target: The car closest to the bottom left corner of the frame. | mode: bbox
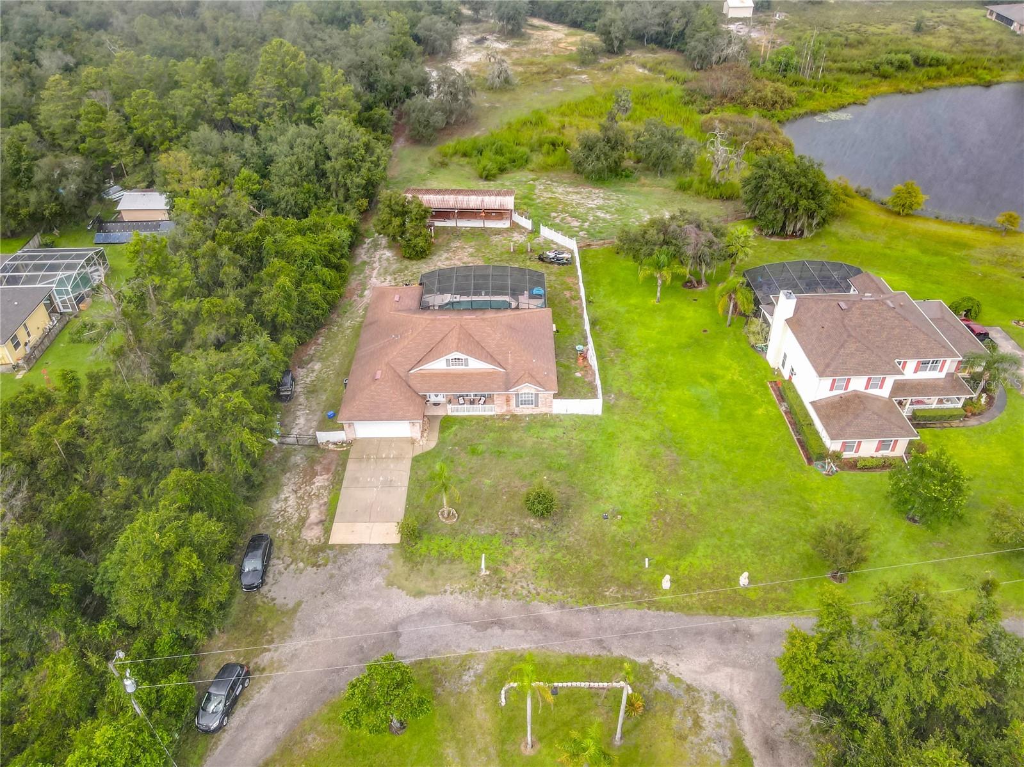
[192,662,255,739]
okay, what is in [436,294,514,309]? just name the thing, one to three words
swimming pool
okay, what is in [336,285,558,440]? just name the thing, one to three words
house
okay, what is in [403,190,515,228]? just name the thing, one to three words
building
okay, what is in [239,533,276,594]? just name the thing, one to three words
car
